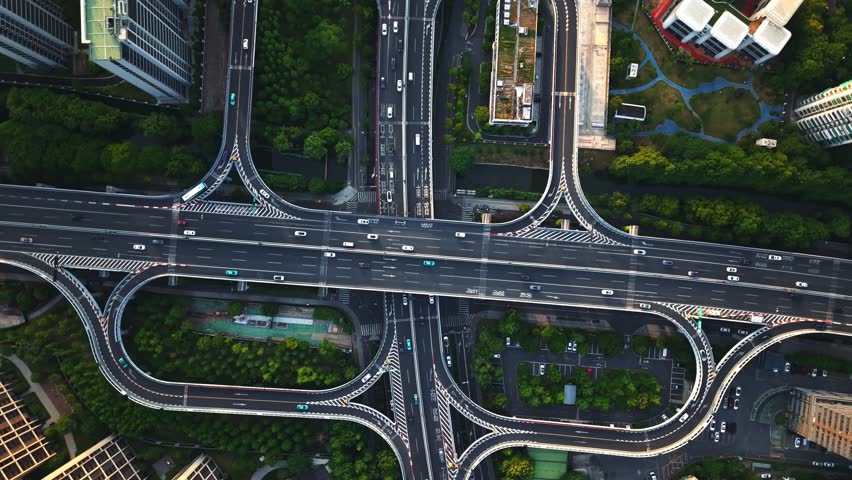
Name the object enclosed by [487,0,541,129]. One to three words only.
building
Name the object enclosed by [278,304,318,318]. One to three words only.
shed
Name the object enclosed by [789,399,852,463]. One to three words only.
building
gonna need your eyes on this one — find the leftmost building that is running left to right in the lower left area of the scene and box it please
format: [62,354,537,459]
[31,432,143,480]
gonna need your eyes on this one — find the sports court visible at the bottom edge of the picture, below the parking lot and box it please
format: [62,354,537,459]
[527,448,569,480]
